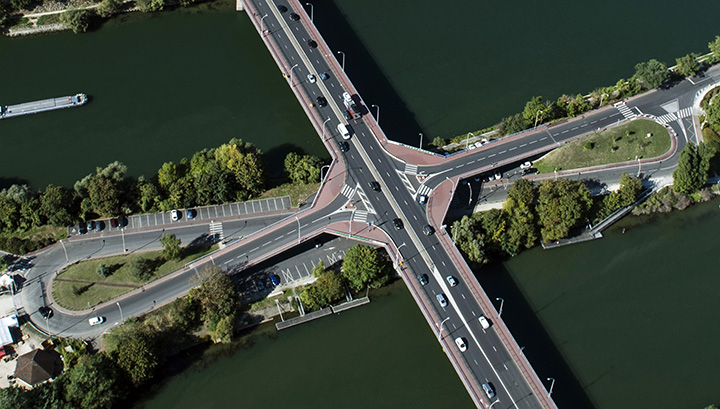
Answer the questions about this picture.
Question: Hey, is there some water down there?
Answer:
Yes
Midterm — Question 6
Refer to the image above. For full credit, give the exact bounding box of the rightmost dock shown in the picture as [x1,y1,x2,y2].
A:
[541,190,653,250]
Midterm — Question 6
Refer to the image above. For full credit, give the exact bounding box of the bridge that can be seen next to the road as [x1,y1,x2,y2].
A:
[240,0,560,409]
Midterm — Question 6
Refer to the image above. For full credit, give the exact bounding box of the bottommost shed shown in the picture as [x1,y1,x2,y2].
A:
[14,349,53,387]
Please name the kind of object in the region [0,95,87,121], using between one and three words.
ship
